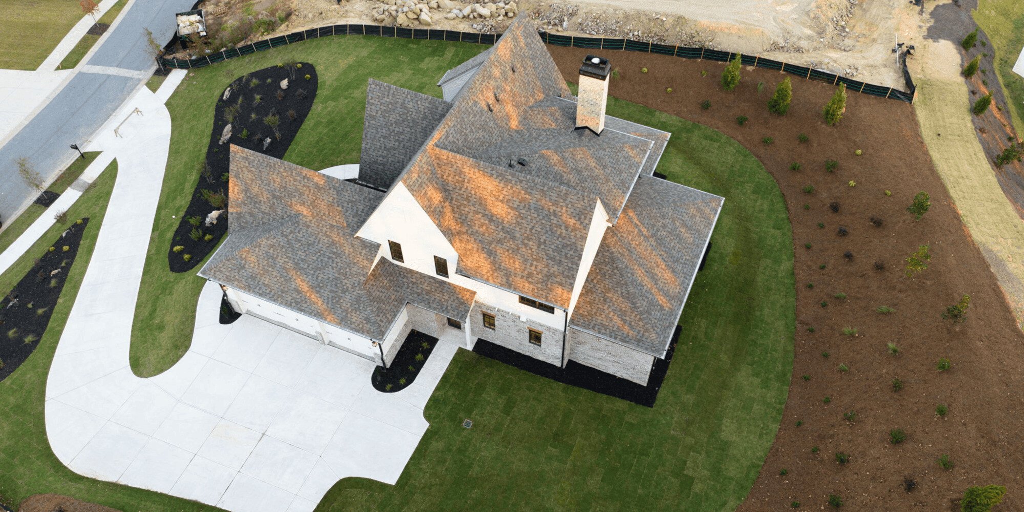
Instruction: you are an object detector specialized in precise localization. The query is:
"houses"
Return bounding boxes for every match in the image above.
[194,11,726,386]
